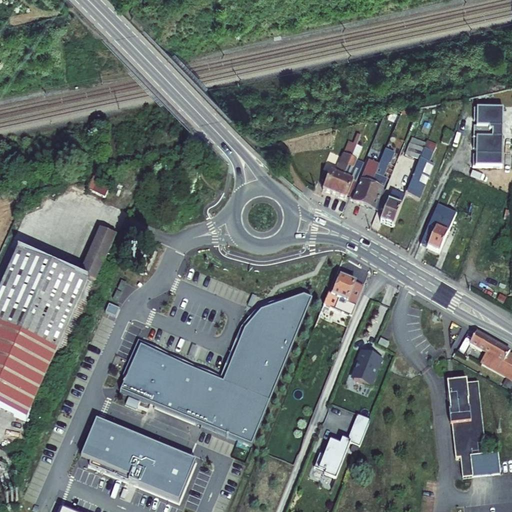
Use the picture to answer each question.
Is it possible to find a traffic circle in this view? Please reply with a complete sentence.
Yes, there's a traffic circle down there.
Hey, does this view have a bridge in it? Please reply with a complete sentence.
Yes, looking at the shot, I can spot a bridge.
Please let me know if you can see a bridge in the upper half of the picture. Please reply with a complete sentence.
Yes, there is a bridge in the upper half of the picture.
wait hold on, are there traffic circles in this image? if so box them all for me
[226,181,299,254]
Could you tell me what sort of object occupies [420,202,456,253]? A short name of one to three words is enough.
barn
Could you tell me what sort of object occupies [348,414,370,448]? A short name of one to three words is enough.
building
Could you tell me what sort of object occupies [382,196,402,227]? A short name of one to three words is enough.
house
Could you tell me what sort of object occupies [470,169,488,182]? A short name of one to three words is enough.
vehicle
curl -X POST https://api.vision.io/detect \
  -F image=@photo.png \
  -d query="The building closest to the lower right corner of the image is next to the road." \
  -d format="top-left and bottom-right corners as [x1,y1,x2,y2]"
[471,452,501,480]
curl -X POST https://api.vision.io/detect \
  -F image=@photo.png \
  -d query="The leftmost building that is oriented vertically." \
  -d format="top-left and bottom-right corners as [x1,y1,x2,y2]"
[0,241,88,422]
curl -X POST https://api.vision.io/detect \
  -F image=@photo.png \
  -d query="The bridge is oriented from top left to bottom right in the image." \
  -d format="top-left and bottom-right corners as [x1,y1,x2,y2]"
[104,10,225,132]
